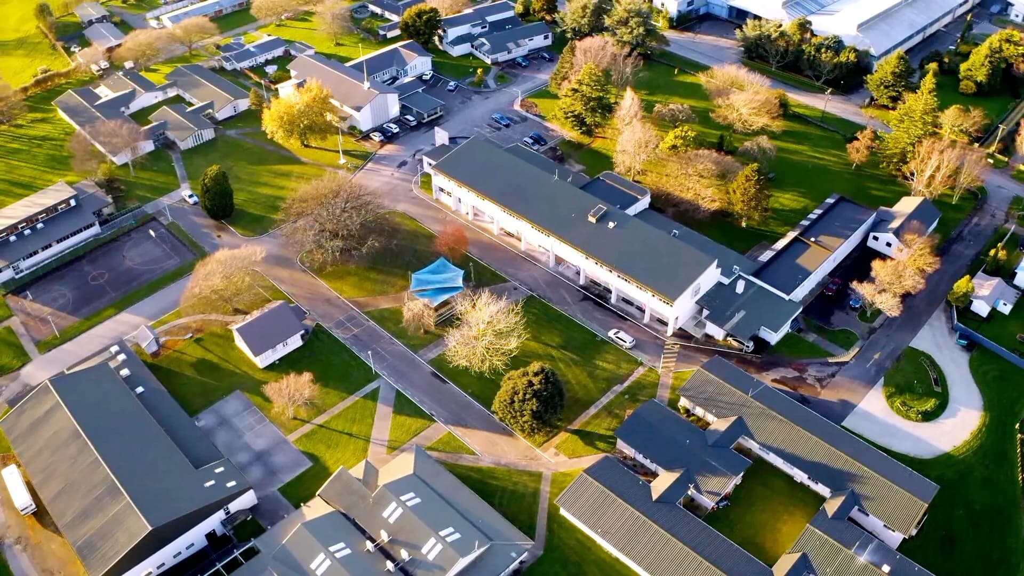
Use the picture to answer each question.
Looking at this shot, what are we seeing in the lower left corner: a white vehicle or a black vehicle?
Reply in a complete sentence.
Looking in the lower left corner, you will find a white vehicle.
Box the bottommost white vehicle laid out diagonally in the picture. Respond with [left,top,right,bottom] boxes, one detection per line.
[0,455,42,522]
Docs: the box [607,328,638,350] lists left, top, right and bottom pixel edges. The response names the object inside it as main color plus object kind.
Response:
white car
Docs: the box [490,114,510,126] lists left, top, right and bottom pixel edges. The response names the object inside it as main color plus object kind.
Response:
blue vehicle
